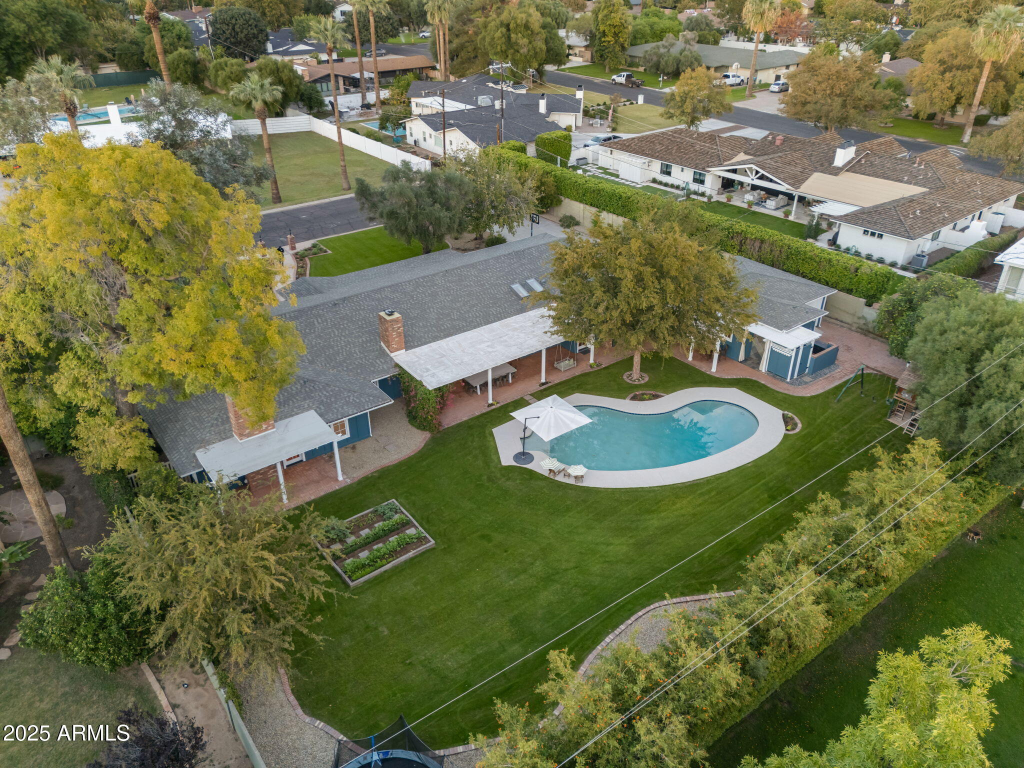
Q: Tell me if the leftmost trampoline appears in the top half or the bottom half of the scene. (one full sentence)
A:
The leftmost trampoline is in the bottom half of the image.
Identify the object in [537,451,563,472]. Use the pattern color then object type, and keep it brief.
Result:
white umbrella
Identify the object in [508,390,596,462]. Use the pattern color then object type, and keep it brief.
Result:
white umbrella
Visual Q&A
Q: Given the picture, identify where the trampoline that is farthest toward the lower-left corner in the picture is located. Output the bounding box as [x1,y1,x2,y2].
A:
[344,714,453,768]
